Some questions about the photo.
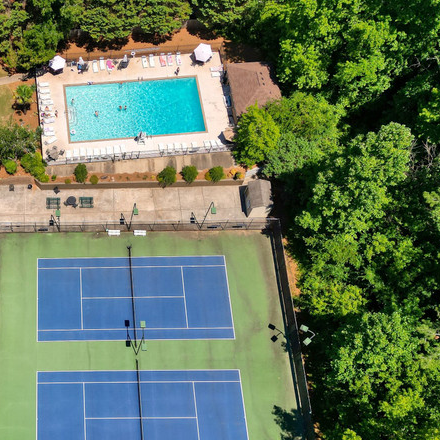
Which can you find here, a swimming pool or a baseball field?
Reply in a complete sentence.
This aerial view contains a swimming pool.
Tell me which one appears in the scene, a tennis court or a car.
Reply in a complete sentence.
There is a tennis court in the scene.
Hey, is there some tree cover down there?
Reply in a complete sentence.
Yes, tree cover can be seen from above here.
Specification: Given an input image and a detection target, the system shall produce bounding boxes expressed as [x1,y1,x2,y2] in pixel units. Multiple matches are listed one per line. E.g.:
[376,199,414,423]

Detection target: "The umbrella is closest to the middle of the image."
[221,129,240,148]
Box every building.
[244,173,279,216]
[226,63,288,131]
